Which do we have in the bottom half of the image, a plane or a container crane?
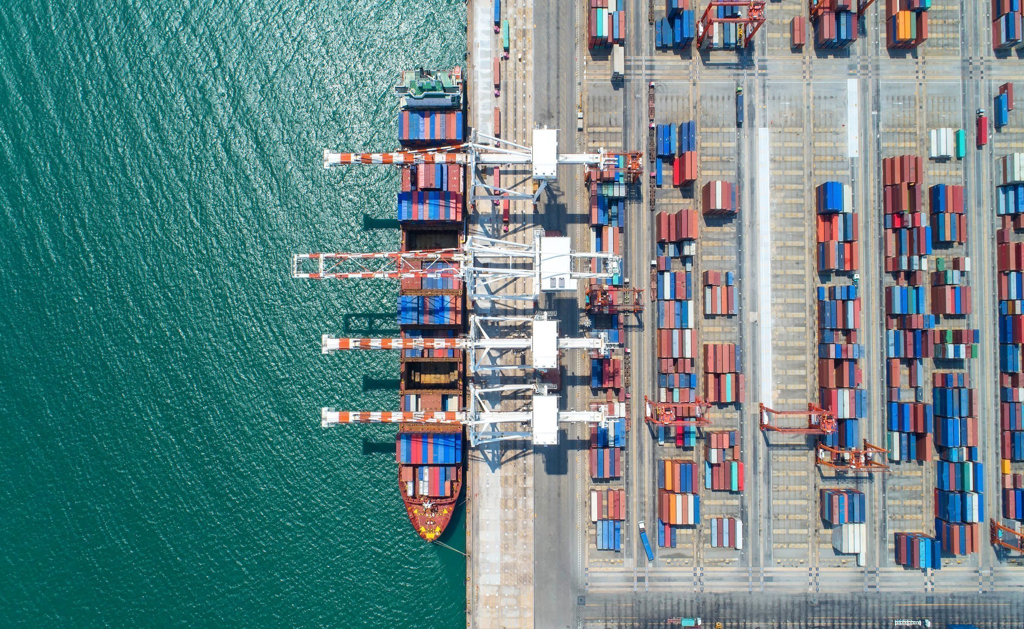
container crane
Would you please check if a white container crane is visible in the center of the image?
Yes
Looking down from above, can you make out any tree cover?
No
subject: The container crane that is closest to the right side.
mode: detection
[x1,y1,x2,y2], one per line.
[991,517,1024,557]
